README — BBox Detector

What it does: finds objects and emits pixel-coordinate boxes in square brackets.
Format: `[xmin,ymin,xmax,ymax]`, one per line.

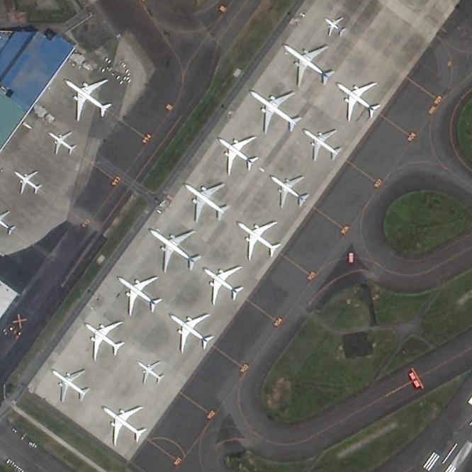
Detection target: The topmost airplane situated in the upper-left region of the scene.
[66,80,111,118]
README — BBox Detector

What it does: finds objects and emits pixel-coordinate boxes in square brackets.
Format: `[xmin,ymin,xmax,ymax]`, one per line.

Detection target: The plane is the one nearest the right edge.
[336,81,380,120]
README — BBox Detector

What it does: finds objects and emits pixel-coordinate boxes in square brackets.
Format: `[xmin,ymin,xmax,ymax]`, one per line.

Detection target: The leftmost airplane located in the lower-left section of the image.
[51,369,89,400]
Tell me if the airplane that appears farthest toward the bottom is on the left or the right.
left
